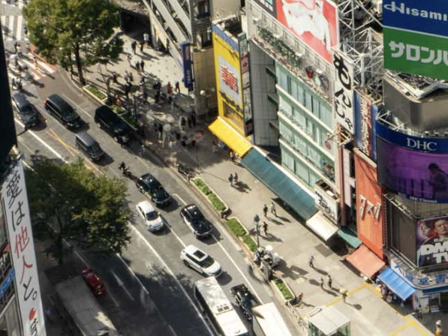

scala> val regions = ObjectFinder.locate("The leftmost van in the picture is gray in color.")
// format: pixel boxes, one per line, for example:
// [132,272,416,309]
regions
[10,91,40,131]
